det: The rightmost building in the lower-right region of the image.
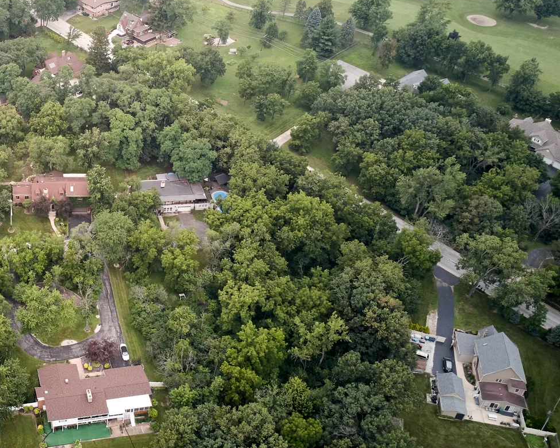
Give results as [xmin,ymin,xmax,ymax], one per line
[449,316,528,412]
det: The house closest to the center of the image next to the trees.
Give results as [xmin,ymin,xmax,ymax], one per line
[132,174,216,213]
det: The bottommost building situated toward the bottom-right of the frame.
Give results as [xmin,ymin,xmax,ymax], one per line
[429,369,467,421]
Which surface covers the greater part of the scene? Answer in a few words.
trees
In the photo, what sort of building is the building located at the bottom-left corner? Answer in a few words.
house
